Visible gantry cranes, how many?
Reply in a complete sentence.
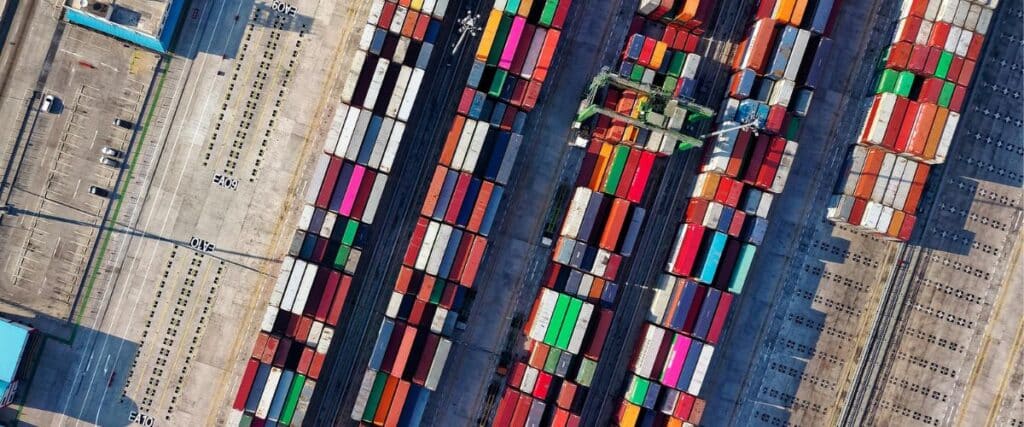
In total, there is 1 gantry crane in the scene.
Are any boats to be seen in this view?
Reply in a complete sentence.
No, there appears to be no boat in this shot.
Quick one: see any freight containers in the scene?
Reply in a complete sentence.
Yes, a freight container can be made out from above.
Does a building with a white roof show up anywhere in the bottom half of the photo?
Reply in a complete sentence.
No, no building with a white roof appears in the bottom half of the photo.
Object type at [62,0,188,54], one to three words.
building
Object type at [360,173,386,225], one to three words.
shipping container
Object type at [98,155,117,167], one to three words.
vehicle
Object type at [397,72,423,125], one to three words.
shipping container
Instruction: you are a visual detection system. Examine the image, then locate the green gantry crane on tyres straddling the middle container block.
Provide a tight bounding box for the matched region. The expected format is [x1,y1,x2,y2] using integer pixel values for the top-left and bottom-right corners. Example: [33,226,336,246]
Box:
[567,66,716,163]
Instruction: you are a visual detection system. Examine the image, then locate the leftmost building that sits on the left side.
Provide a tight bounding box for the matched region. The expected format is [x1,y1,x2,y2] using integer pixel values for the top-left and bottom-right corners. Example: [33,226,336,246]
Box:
[0,309,47,411]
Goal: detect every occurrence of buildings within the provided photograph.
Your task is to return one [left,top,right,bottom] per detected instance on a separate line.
[0,309,47,411]
[62,0,188,54]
